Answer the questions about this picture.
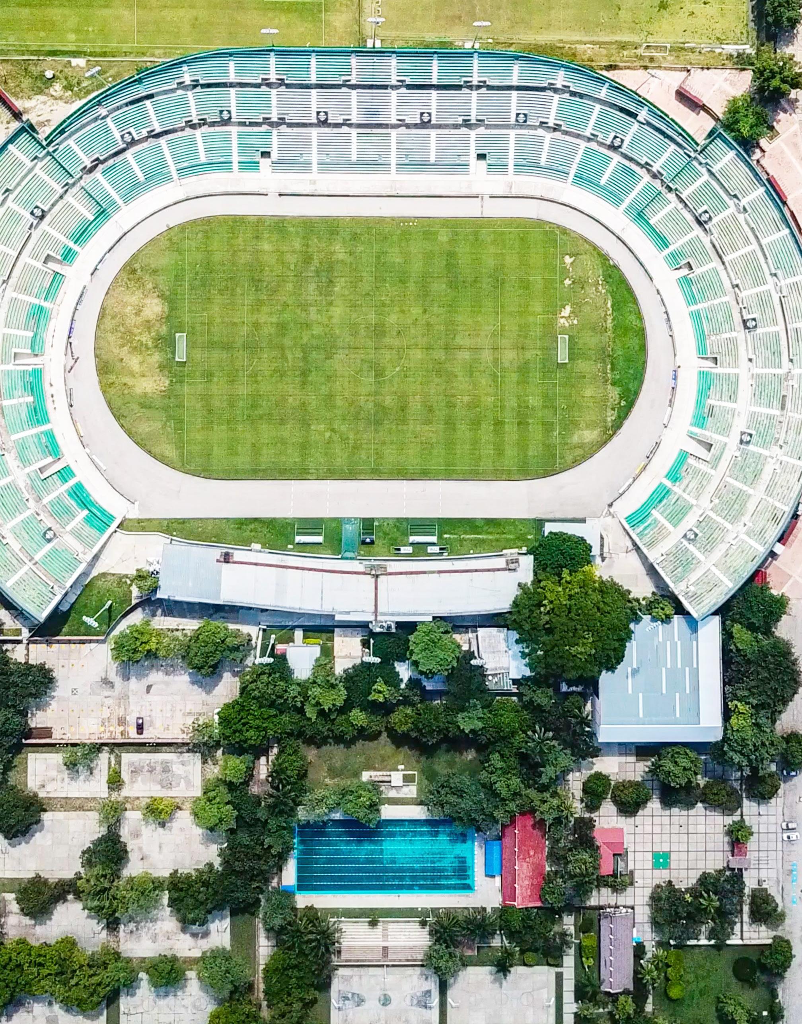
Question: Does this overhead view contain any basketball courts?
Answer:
Yes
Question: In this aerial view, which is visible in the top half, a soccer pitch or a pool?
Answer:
soccer pitch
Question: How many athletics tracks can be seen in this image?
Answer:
1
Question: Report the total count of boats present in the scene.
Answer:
0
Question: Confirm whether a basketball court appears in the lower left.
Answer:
Yes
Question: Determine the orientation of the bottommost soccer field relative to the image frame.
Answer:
from left to right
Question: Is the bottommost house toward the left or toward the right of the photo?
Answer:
right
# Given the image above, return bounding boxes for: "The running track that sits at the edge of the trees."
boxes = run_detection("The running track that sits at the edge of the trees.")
[64,194,676,517]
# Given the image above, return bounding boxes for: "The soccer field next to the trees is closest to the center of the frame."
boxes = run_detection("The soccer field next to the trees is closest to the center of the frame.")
[94,216,648,480]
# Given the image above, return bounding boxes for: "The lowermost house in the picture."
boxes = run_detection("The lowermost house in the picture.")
[600,908,634,992]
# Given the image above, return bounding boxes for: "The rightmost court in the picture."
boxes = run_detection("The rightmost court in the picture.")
[447,967,555,1024]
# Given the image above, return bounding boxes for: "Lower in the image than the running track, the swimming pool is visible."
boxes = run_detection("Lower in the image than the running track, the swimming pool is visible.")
[281,806,502,908]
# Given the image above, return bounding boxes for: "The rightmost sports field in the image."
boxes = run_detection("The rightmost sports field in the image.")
[377,0,749,42]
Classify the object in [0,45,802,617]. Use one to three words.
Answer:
stadium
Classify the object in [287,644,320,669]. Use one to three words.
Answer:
shed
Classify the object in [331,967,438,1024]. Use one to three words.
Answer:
basketball court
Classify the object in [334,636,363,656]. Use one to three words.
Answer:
building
